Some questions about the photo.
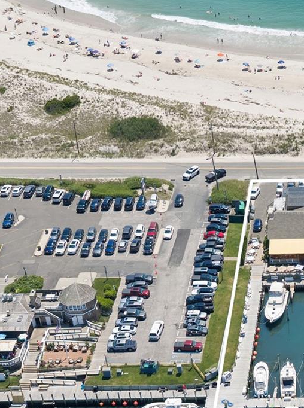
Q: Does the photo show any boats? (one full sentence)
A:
Yes, there's a boat down there.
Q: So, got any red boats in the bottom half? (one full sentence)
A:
No, I see no red boat in the bottom half.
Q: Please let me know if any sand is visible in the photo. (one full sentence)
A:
Yes, the picture does contain sand.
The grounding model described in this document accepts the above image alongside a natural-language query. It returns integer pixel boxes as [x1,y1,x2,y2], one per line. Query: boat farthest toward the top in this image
[266,286,288,324]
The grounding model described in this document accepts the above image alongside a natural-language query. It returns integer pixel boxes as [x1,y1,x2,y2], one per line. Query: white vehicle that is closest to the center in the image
[146,194,160,209]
